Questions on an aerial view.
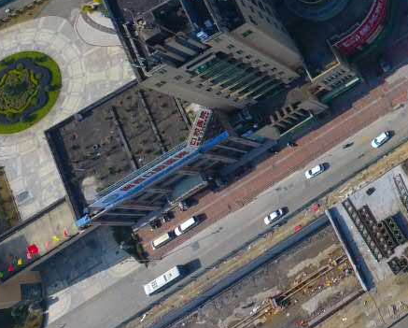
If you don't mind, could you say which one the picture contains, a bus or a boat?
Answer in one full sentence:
Looking from above, you can make out a bus.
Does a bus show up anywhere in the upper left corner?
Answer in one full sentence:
No, there's no bus to be seen in the upper left corner.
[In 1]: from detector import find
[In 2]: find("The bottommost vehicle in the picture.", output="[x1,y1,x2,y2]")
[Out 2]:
[133,263,183,296]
